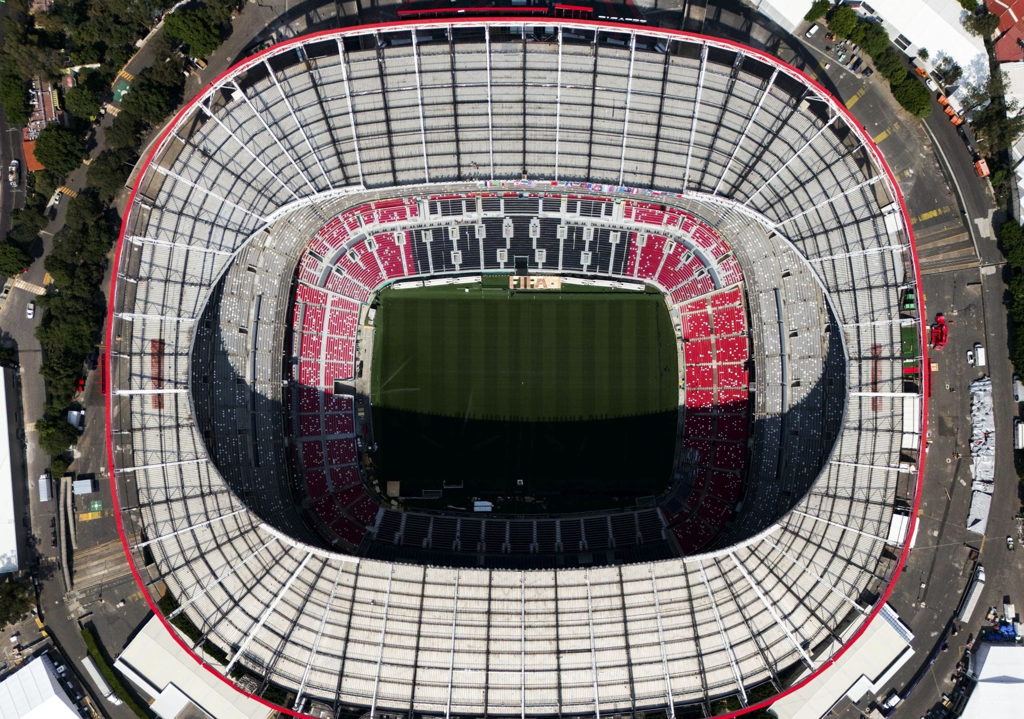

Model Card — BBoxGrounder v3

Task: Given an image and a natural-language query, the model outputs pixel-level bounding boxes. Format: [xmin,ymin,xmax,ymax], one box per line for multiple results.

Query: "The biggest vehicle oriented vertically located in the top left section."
[8,162,20,189]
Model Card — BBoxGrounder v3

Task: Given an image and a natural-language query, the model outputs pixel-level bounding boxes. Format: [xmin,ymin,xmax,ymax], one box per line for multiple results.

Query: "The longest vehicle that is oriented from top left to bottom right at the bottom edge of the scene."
[74,656,122,707]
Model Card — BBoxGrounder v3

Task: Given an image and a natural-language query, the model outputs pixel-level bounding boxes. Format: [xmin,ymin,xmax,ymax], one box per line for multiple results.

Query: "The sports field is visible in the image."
[382,299,659,484]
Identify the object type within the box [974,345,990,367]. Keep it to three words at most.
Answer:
vehicle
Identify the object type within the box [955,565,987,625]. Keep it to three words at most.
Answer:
truck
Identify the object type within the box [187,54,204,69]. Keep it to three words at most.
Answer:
vehicle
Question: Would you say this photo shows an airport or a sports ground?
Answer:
sports ground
